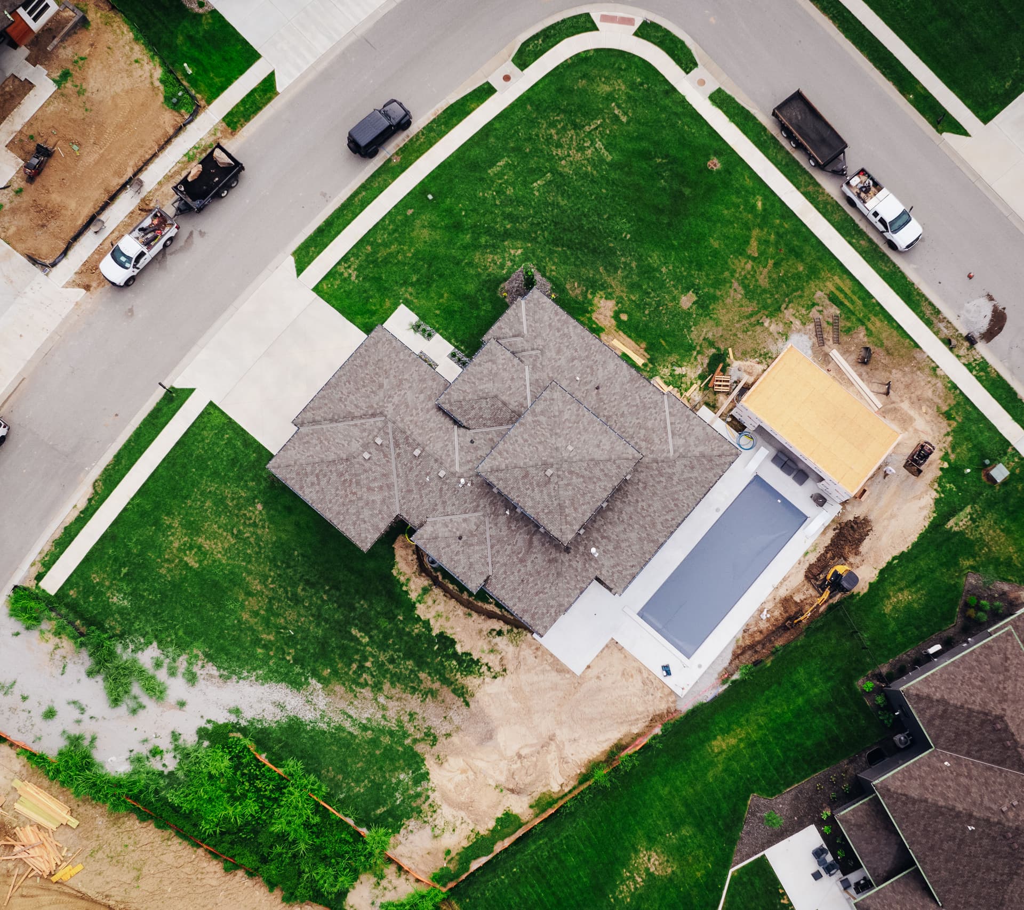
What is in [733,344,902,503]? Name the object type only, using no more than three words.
building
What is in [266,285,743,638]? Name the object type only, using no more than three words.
house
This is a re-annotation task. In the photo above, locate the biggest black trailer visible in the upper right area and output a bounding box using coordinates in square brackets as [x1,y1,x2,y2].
[770,90,847,176]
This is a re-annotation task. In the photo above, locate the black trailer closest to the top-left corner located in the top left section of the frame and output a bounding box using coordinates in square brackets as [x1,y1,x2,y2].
[173,145,244,218]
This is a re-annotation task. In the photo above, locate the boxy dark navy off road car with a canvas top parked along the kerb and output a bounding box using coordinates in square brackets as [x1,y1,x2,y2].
[350,99,411,151]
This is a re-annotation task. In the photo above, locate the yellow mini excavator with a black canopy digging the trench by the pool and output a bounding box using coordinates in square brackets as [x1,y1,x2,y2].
[787,567,863,629]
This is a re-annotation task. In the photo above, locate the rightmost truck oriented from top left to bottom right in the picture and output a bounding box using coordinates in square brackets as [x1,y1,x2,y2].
[840,170,919,254]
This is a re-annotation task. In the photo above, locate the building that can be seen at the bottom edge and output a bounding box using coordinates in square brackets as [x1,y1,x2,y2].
[831,604,1024,910]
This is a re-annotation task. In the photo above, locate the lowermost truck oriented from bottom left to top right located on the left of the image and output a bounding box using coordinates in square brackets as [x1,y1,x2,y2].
[105,210,181,290]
